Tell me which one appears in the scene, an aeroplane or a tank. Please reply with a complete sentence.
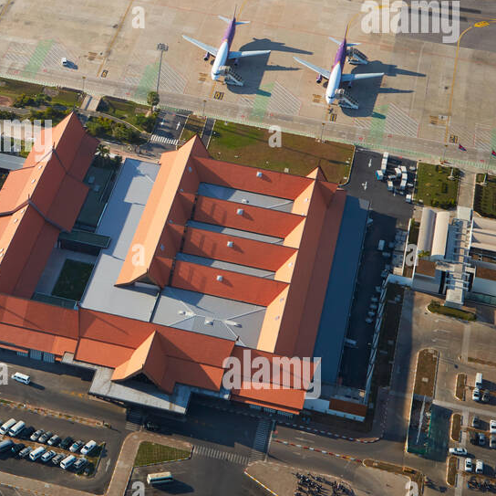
Visible in the photo is an aeroplane.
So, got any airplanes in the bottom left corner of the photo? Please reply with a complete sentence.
No, no airplane is visible in the bottom left corner of the photo.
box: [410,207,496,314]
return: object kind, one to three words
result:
building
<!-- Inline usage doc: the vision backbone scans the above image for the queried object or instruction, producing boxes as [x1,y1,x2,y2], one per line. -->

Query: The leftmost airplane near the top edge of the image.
[181,16,269,80]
